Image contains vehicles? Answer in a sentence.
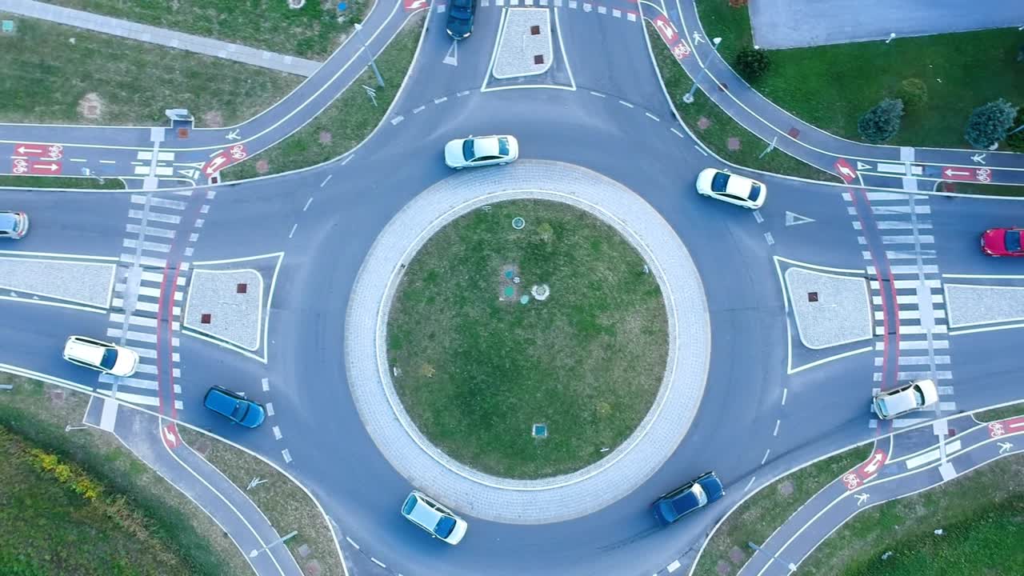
Yes, looking at the shot, I can spot a vehicle.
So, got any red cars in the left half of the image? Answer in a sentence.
No, there is no red car in the left half of the image.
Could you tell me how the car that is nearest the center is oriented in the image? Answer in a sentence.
From this overhead view, the car that is nearest the center appears to run from side to side.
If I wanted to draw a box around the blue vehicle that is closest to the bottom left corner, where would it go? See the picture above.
[203,384,265,427]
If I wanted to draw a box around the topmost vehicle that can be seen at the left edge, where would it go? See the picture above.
[0,210,29,242]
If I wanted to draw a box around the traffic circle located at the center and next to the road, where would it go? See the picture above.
[268,82,787,576]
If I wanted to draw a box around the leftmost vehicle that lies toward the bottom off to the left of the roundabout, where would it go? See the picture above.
[60,335,143,376]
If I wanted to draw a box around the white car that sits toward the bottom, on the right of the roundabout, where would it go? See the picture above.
[870,378,937,419]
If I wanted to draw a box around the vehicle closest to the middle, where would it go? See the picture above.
[444,132,520,170]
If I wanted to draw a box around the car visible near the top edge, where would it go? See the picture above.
[442,0,476,41]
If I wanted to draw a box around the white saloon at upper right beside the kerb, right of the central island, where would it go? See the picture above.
[693,167,767,213]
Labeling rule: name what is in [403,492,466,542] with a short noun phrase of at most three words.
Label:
car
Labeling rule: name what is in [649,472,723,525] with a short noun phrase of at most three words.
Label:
car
